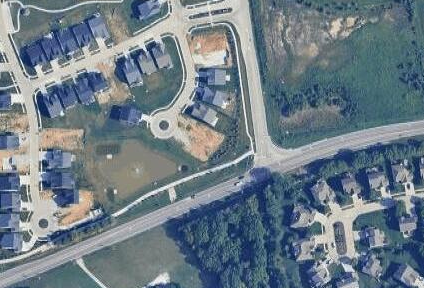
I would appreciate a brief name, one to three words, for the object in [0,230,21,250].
house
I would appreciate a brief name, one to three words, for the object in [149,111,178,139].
roundabout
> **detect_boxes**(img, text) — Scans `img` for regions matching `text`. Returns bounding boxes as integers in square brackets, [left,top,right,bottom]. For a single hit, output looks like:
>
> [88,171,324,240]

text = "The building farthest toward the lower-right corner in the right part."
[394,259,423,286]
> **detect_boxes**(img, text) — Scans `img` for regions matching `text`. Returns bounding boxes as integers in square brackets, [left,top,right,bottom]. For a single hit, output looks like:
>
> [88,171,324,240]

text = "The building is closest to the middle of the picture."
[185,102,219,128]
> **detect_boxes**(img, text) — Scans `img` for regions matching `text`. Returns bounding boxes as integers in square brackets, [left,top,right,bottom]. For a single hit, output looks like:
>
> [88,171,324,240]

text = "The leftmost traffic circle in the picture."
[28,209,58,237]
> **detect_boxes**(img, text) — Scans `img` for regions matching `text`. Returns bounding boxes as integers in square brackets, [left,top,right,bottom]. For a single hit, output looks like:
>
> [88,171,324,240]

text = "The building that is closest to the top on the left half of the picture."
[134,0,159,21]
